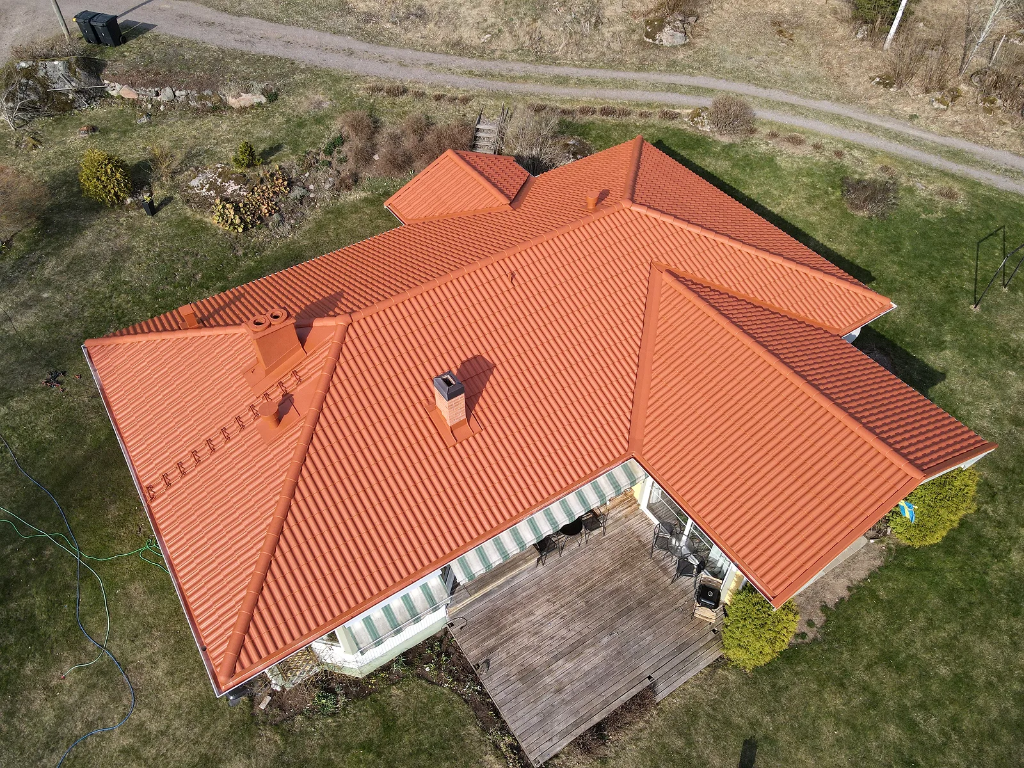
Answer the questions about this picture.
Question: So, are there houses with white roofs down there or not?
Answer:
No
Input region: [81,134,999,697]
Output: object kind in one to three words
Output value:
house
